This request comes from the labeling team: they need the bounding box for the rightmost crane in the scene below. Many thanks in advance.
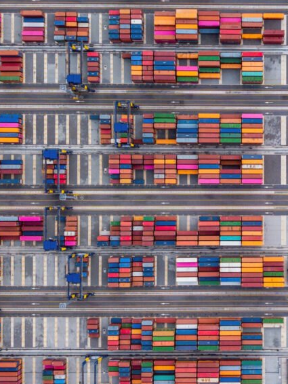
[113,101,141,147]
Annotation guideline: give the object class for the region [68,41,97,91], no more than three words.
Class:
container crane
